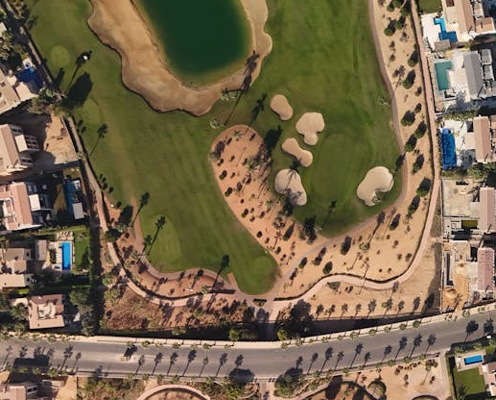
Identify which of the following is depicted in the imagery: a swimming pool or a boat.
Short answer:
swimming pool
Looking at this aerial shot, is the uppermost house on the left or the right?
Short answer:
right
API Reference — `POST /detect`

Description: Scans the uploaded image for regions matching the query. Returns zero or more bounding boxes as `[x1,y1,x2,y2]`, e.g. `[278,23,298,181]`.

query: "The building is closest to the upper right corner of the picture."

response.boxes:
[442,0,496,41]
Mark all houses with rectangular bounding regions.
[464,114,496,162]
[0,61,40,119]
[443,48,496,98]
[0,123,42,174]
[0,239,50,286]
[454,240,496,293]
[0,380,65,400]
[0,181,56,228]
[442,0,496,41]
[29,293,77,329]
[470,186,496,234]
